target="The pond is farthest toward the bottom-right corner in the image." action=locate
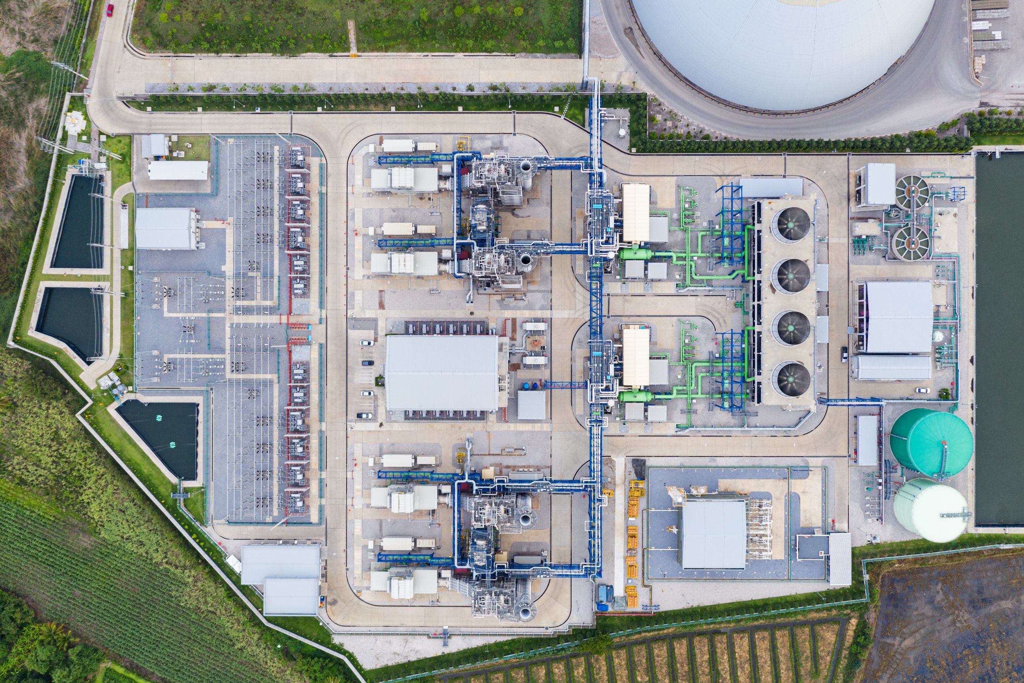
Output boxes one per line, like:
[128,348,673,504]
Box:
[970,150,1024,533]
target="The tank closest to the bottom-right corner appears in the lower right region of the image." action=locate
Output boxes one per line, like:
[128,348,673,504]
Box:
[884,474,966,544]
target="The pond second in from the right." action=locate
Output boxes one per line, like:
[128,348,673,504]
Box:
[107,393,203,487]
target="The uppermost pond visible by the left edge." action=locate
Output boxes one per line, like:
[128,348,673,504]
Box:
[42,165,112,274]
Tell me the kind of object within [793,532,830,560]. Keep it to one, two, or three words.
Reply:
building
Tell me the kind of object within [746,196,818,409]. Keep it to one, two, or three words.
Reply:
cooling tower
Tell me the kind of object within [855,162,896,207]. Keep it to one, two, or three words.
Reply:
building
